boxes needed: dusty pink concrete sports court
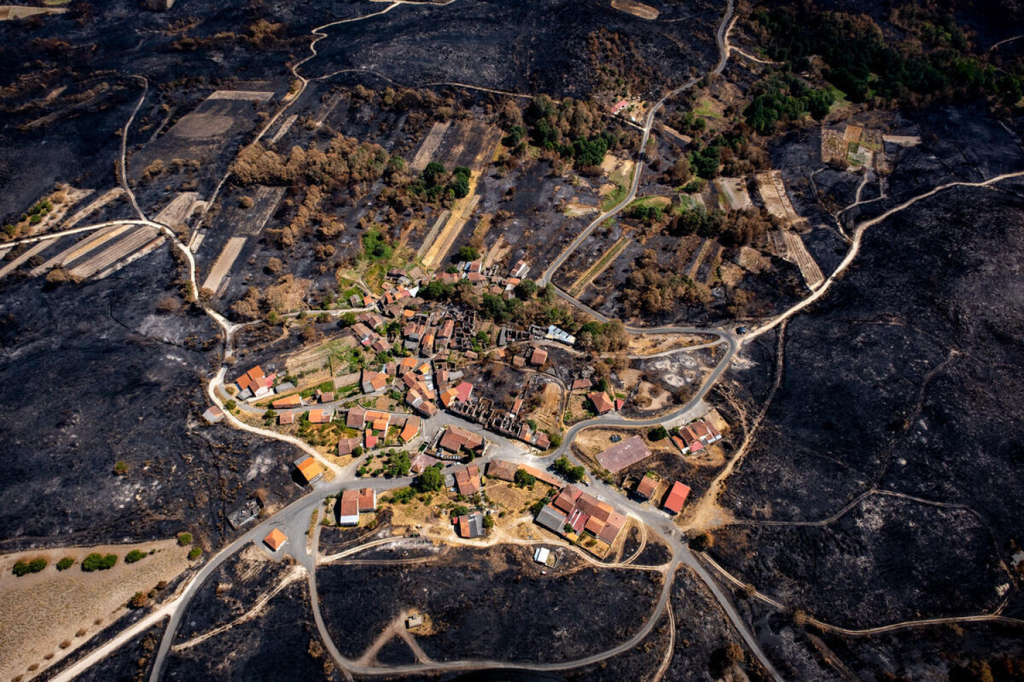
[595,435,652,474]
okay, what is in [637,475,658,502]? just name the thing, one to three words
house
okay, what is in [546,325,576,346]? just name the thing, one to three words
shed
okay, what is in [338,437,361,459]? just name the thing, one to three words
barn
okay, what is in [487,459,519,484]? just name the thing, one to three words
building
